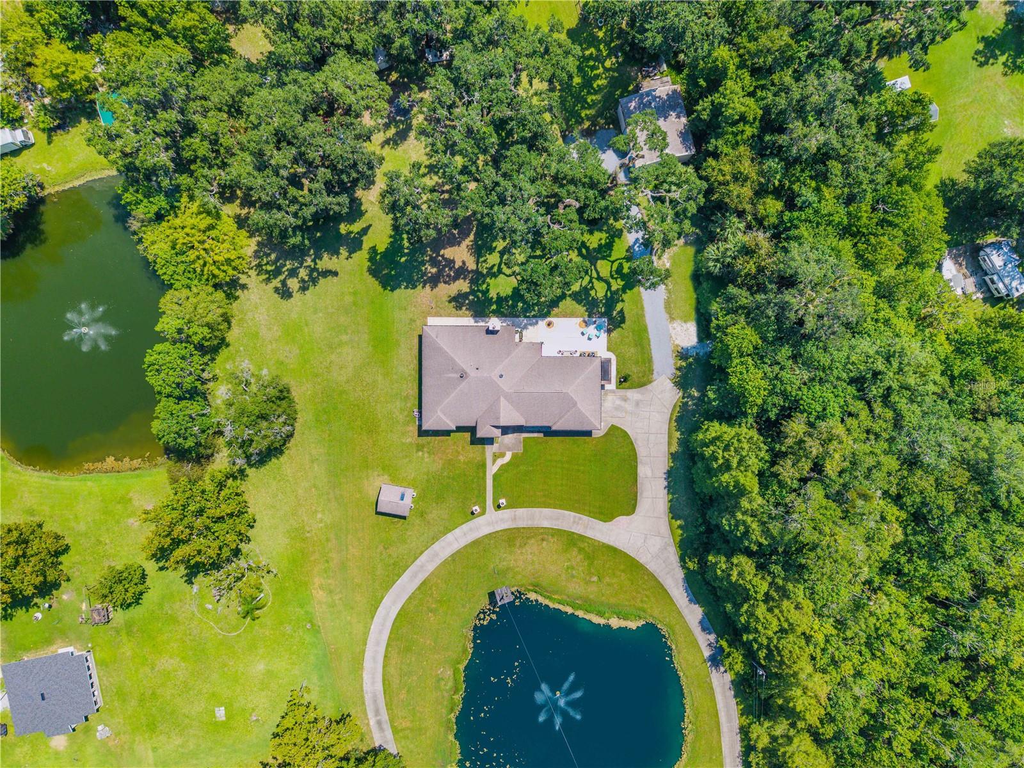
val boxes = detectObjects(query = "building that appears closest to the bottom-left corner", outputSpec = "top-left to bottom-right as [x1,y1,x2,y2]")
[0,646,106,737]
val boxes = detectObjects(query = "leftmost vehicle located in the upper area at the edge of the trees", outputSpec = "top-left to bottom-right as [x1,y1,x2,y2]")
[0,128,42,156]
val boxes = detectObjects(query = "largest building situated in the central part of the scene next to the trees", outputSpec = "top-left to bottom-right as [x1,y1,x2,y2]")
[422,324,602,438]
